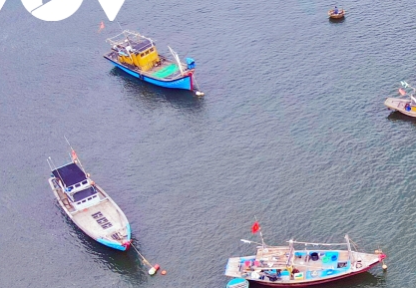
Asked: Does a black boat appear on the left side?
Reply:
No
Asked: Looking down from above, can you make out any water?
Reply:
Yes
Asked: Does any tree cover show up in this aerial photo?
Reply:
No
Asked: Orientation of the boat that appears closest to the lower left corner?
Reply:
diagonally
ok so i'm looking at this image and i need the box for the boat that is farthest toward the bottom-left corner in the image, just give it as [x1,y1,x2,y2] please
[37,125,151,269]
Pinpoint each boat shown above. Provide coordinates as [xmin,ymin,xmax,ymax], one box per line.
[382,80,416,118]
[98,23,200,91]
[223,218,386,286]
[37,125,151,269]
[328,10,345,20]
